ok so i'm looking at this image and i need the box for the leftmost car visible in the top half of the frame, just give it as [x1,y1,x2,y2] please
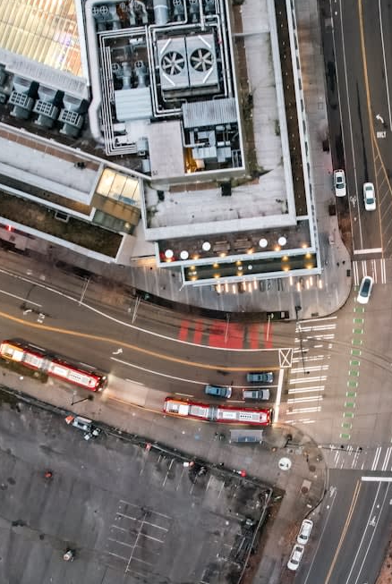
[333,169,347,197]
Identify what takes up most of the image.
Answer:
paved ground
